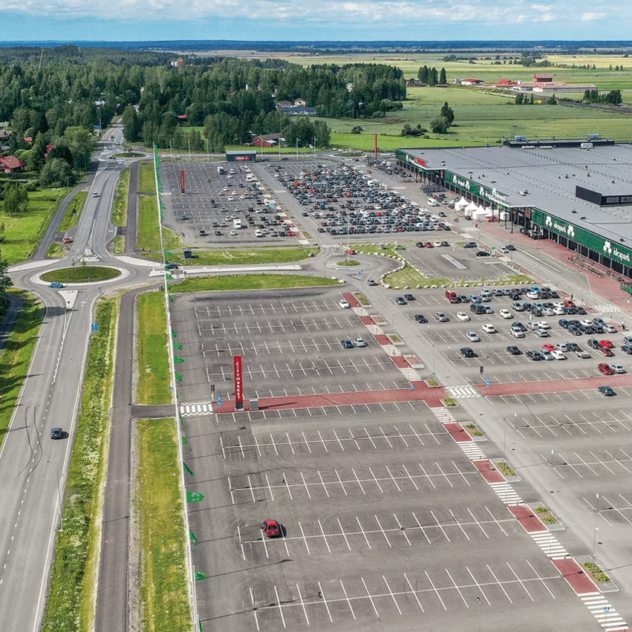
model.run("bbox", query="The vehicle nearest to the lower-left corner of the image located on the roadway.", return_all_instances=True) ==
[51,428,64,441]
